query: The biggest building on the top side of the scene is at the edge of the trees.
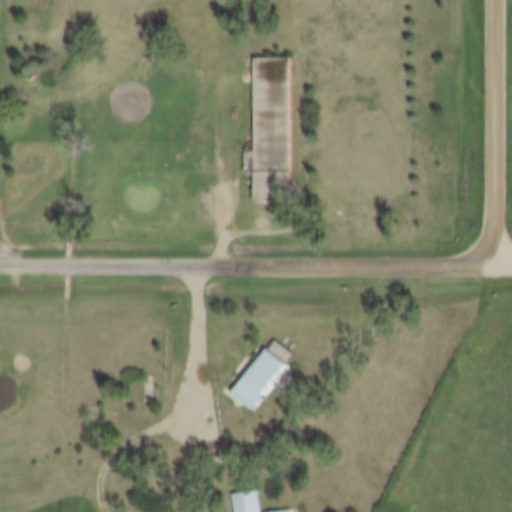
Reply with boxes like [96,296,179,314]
[252,57,292,172]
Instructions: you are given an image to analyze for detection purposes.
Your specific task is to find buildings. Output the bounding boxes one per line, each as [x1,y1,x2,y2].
[234,490,262,512]
[252,57,292,172]
[231,340,293,408]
